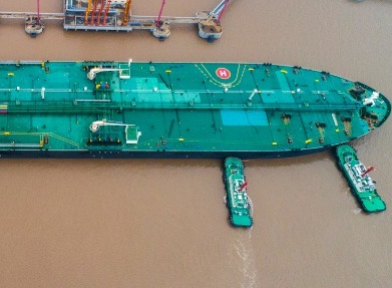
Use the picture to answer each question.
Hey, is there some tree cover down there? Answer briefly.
No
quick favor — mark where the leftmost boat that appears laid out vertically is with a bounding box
[223,155,254,229]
